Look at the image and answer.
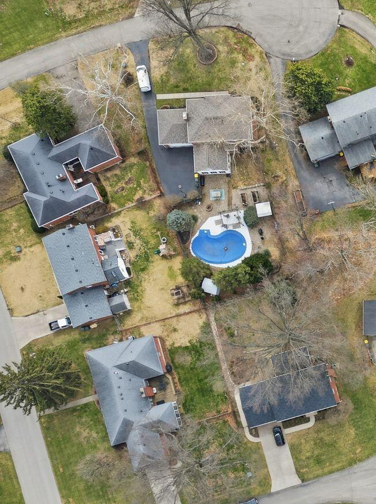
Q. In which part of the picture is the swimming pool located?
center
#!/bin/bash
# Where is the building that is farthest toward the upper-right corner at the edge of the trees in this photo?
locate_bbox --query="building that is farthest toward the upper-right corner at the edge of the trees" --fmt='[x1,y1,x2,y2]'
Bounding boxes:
[296,86,376,170]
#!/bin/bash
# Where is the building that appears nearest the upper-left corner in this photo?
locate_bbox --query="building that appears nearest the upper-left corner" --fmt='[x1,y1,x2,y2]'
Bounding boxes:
[8,124,119,228]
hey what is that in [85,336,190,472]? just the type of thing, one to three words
house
